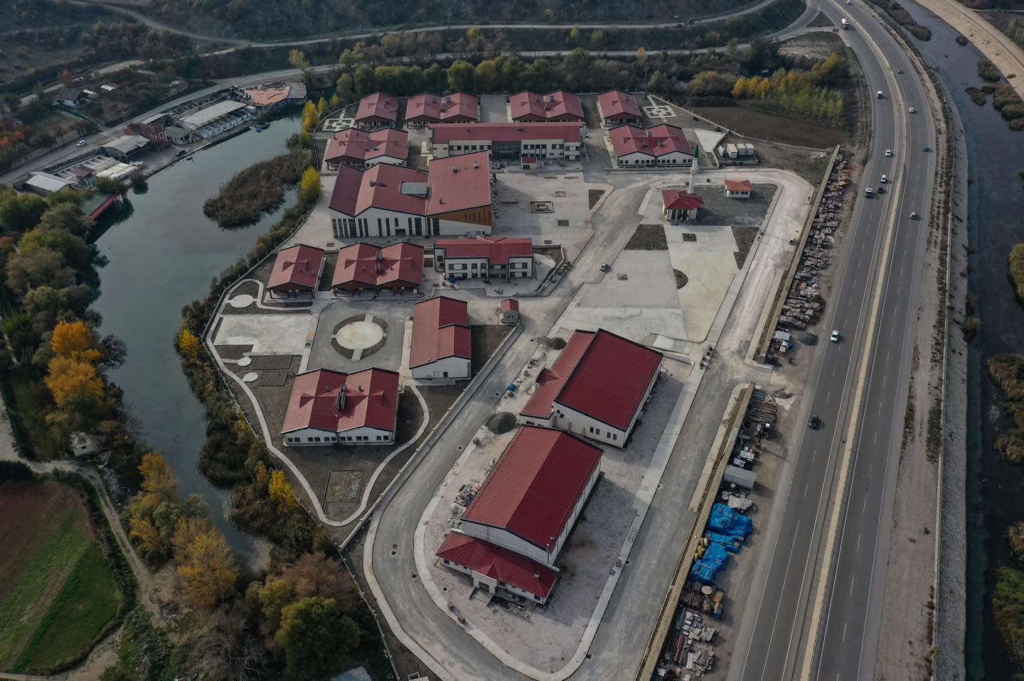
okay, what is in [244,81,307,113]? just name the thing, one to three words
building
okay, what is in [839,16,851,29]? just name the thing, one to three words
vehicle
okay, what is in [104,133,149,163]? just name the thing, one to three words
shed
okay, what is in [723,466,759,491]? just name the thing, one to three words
shipping container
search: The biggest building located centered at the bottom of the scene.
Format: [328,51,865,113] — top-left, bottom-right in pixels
[438,423,602,616]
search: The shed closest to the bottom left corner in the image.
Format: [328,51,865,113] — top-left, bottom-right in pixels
[72,432,99,462]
